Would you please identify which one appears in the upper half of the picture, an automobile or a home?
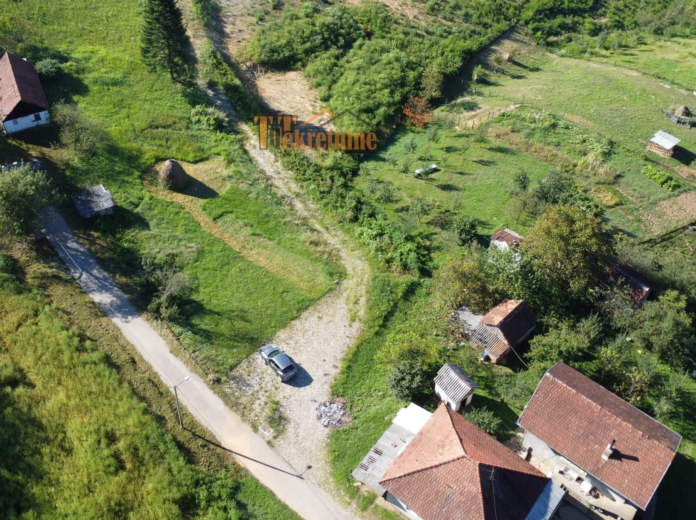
home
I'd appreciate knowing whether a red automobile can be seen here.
No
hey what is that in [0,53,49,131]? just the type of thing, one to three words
house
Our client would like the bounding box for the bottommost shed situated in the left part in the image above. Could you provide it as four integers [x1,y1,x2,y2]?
[72,184,115,227]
